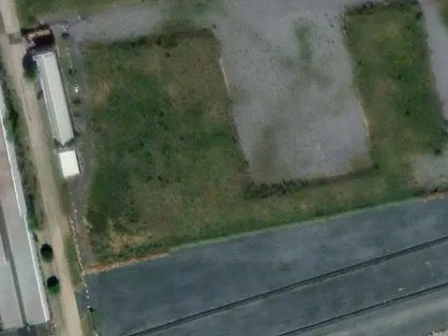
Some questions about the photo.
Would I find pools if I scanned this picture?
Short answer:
No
